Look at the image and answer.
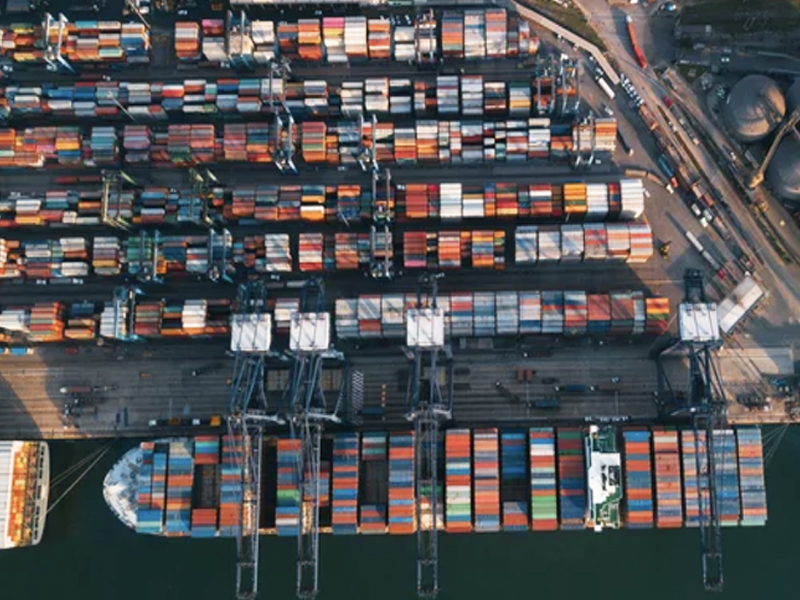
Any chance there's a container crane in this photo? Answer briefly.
Yes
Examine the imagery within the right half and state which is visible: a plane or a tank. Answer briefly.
tank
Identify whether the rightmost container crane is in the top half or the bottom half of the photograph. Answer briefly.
bottom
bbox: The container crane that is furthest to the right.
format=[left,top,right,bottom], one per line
[646,264,730,600]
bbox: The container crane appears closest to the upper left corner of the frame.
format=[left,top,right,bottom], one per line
[43,12,78,73]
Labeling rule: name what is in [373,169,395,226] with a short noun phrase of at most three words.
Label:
container crane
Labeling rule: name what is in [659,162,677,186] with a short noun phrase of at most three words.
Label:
vehicle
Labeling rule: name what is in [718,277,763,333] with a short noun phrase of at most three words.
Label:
shed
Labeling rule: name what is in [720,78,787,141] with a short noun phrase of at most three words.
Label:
storage tank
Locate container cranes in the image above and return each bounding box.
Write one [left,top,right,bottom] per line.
[528,60,555,121]
[371,227,395,282]
[229,8,255,73]
[571,111,595,169]
[269,64,295,123]
[102,171,138,227]
[359,112,382,172]
[139,230,172,285]
[276,113,302,173]
[373,169,395,226]
[209,227,239,281]
[112,289,151,341]
[646,264,730,600]
[43,12,78,73]
[228,279,300,600]
[402,273,459,600]
[288,277,356,600]
[553,57,579,120]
